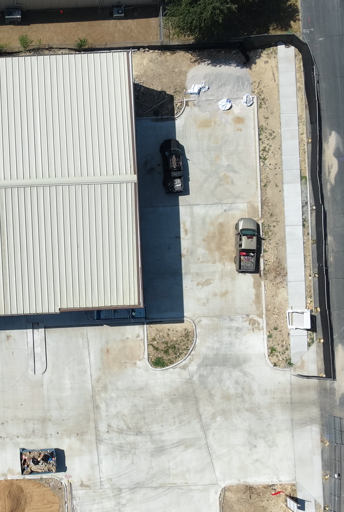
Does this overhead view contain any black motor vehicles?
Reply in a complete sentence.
Yes, I can see a black motor vehicle in this picture.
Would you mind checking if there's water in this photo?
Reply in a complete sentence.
No, there's no water in this view.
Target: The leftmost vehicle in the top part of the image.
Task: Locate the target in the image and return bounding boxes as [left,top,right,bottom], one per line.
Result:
[159,139,184,196]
